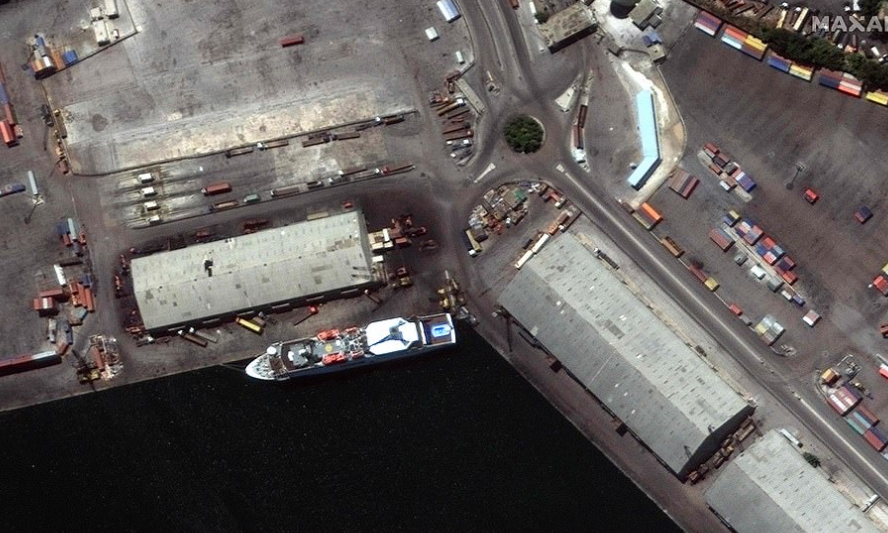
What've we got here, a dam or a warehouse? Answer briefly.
warehouse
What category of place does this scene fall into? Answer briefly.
port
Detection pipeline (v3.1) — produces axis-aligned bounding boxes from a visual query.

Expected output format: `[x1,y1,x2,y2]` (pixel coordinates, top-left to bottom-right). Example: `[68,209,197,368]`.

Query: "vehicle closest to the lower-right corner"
[864,495,881,513]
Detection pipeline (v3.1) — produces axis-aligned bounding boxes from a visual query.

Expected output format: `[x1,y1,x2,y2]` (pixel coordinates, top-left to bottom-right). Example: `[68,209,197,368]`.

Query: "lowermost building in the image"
[705,430,881,533]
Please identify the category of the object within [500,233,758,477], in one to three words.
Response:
warehouse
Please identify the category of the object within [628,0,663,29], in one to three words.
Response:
building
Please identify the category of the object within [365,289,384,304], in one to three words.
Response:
vehicle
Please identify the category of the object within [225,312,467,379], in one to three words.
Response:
ship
